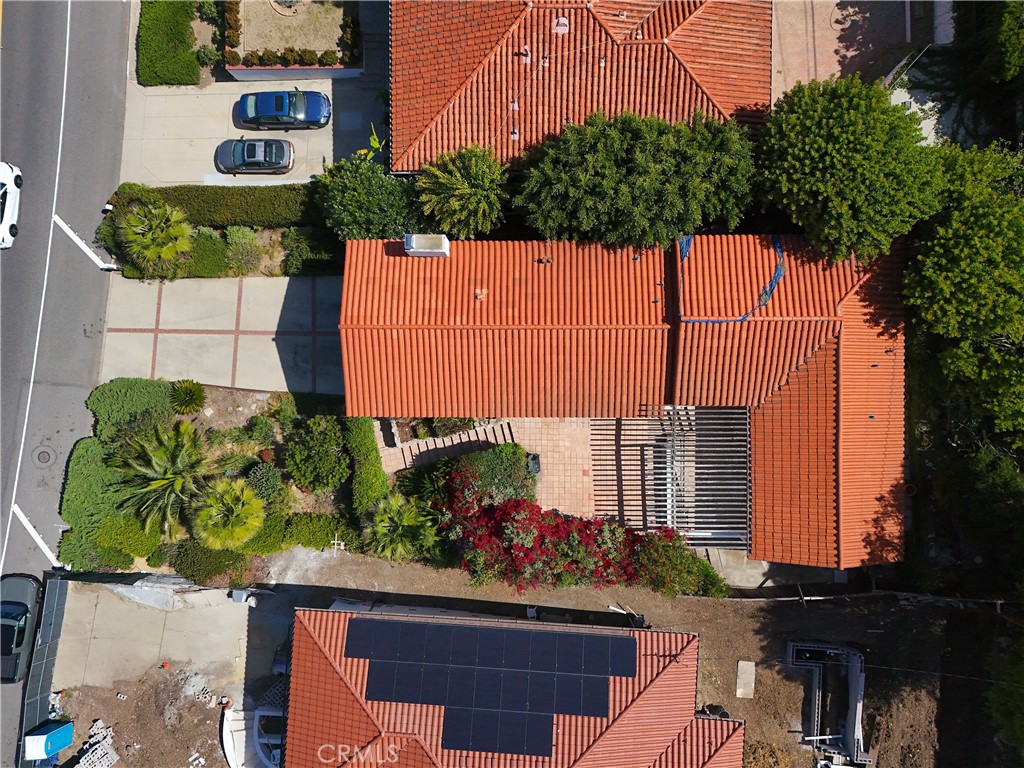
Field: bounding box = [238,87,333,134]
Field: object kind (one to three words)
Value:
car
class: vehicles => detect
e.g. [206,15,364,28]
[0,567,52,684]
[238,87,333,134]
[216,133,296,178]
[0,161,24,249]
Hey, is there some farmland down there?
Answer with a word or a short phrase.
No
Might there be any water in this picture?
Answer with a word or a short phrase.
No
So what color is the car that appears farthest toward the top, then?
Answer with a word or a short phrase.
blue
